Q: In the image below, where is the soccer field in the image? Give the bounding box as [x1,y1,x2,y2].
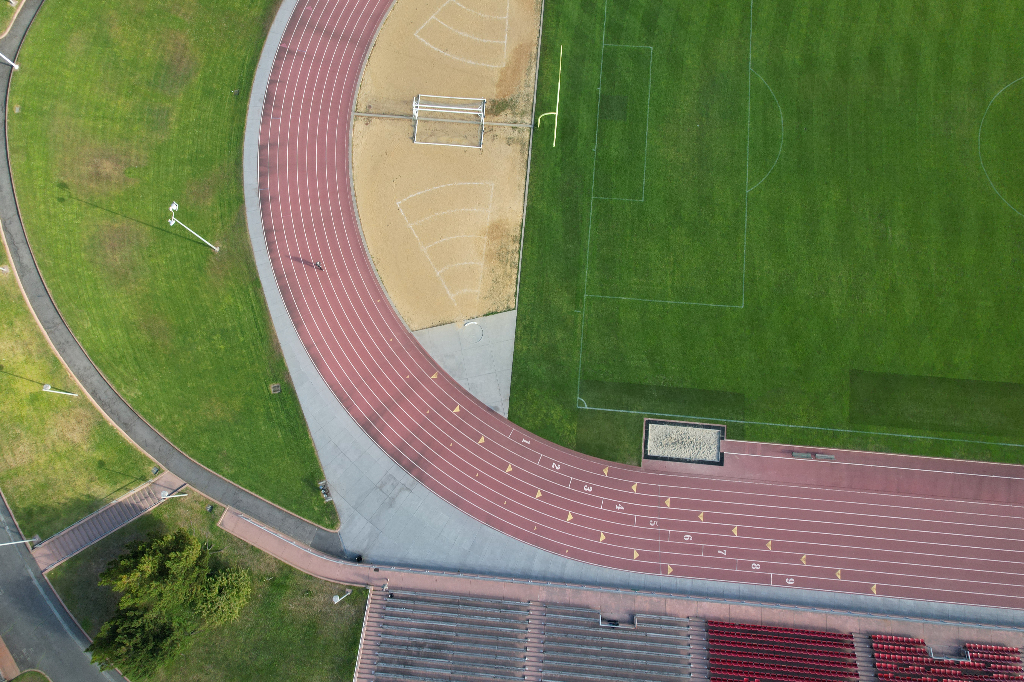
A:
[508,0,1024,465]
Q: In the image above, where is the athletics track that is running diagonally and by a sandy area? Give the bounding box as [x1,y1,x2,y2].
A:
[258,0,1024,609]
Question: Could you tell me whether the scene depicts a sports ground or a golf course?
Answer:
sports ground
